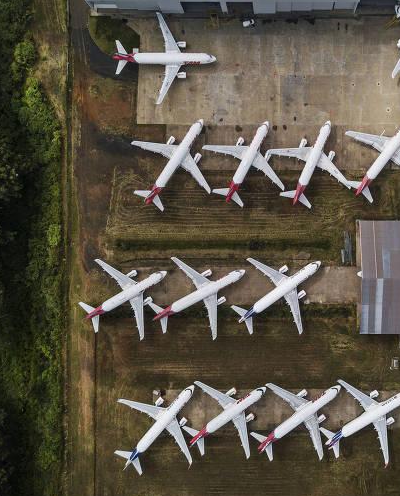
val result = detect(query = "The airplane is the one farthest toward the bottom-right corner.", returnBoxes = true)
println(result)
[320,380,400,466]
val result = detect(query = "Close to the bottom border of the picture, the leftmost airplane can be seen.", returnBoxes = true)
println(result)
[116,385,196,473]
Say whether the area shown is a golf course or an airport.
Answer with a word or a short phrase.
airport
